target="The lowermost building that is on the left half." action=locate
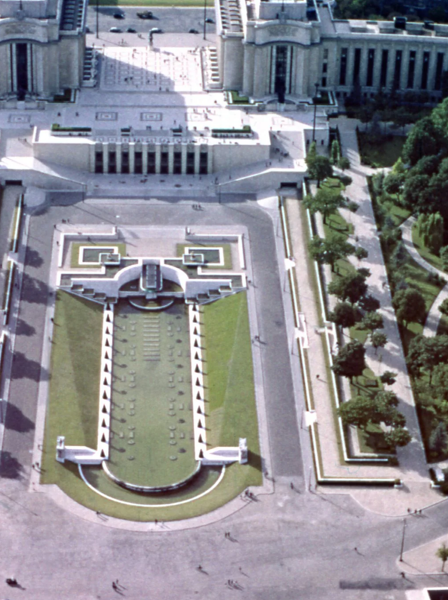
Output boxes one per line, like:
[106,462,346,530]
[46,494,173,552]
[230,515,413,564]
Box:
[31,125,271,195]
